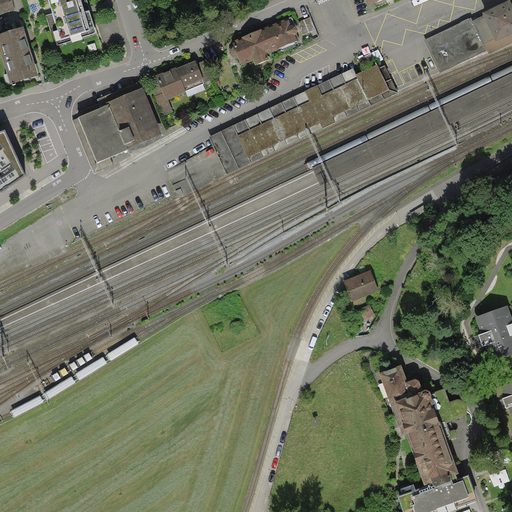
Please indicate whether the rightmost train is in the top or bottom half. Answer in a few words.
top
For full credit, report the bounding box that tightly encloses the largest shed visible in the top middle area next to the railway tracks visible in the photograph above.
[210,64,396,174]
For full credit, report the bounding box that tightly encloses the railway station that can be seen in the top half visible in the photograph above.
[0,74,512,326]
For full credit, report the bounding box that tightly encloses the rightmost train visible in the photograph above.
[307,64,512,168]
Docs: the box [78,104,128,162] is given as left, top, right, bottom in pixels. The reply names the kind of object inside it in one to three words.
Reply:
building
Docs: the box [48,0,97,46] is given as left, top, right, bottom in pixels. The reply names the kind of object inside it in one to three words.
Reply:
building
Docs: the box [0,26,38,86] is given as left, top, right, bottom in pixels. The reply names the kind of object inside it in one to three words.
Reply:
house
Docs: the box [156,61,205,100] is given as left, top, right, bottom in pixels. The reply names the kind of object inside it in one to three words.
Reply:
house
